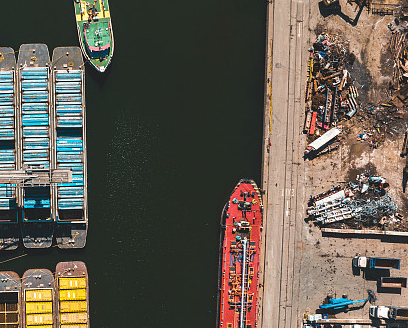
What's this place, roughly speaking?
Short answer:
port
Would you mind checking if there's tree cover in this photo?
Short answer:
No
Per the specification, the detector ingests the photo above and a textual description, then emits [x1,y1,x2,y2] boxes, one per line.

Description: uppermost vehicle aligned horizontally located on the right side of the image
[349,255,403,270]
